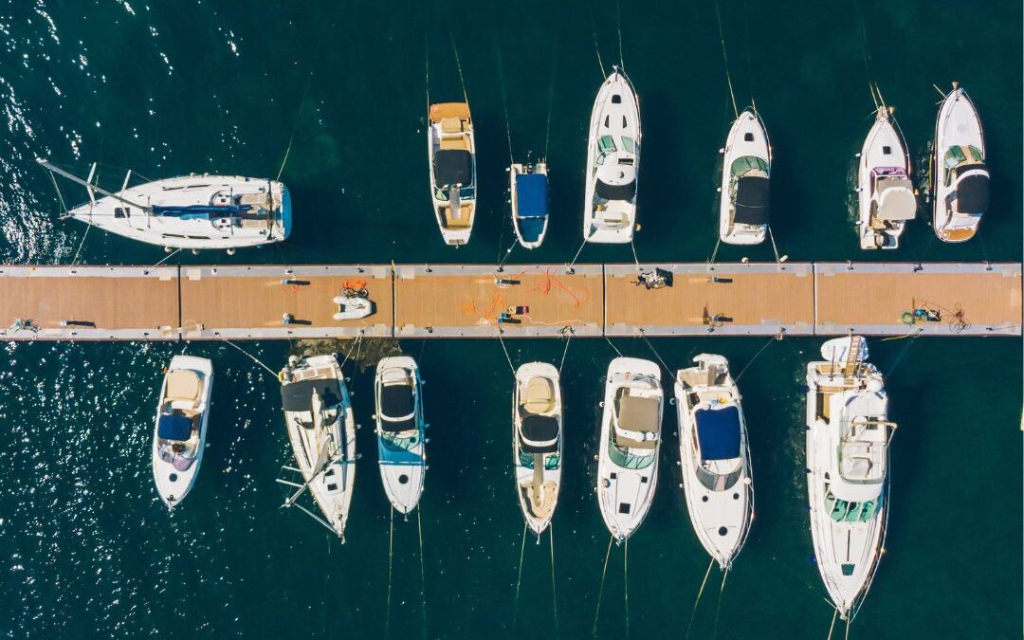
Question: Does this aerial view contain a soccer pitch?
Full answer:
No, I can't see a single soccer pitch in this photo.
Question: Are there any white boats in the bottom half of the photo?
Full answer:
Yes, a white boat appears in the bottom half of the photo.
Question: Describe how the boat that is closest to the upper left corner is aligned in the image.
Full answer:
The boat that is closest to the upper left corner is laid out from side to side.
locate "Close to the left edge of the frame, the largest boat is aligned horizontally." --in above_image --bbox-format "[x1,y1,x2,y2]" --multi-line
[30,165,293,250]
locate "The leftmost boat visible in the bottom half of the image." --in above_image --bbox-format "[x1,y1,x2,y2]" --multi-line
[155,354,214,514]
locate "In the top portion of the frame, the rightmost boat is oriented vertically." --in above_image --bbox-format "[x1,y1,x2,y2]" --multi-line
[927,84,986,242]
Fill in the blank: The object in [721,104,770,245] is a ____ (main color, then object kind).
white boat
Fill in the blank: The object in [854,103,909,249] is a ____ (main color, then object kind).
white boat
